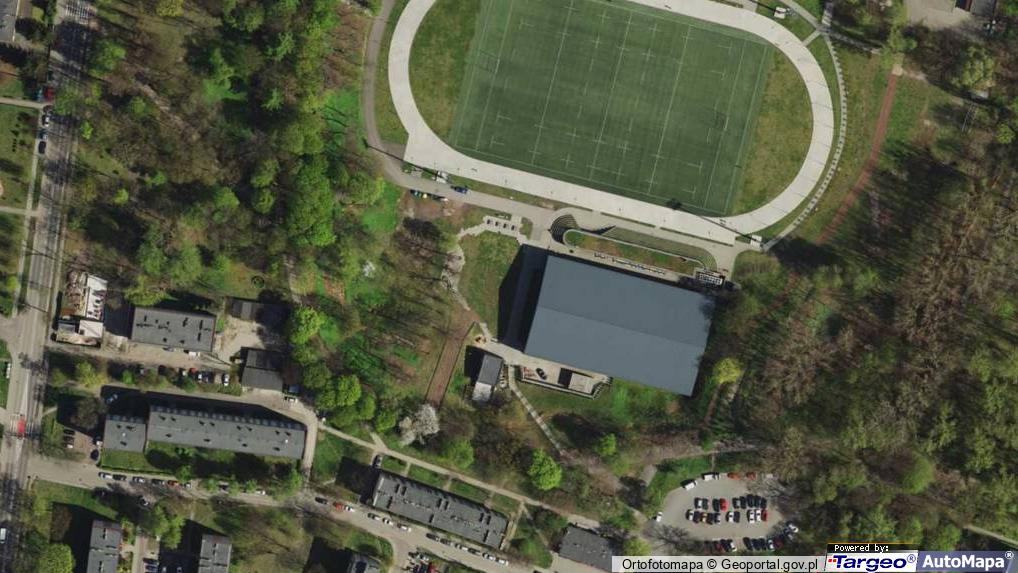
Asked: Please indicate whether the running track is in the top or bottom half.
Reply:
top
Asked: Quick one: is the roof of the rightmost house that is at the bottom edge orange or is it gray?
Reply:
gray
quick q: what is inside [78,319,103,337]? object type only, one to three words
building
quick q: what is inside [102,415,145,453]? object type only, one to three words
building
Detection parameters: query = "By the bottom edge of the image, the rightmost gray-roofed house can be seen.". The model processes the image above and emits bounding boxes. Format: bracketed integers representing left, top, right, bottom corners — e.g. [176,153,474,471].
[558,524,616,571]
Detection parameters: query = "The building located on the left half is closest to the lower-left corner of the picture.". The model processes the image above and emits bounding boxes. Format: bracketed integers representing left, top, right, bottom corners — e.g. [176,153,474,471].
[86,522,121,573]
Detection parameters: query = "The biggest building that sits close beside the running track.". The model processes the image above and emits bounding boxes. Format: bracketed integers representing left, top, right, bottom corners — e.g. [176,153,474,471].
[523,254,716,397]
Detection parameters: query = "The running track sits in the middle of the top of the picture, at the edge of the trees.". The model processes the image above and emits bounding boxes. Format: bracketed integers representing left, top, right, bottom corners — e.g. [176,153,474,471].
[390,0,834,246]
